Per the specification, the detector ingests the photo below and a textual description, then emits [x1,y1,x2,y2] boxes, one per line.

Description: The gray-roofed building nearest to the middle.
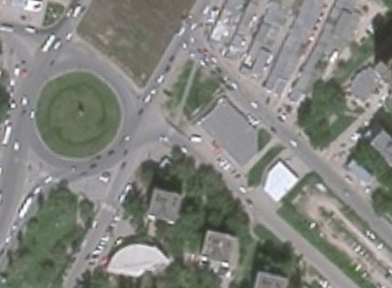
[196,97,260,169]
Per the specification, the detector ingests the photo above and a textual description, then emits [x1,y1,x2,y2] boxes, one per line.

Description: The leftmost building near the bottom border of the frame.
[107,244,171,278]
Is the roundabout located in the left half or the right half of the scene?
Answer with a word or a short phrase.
left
